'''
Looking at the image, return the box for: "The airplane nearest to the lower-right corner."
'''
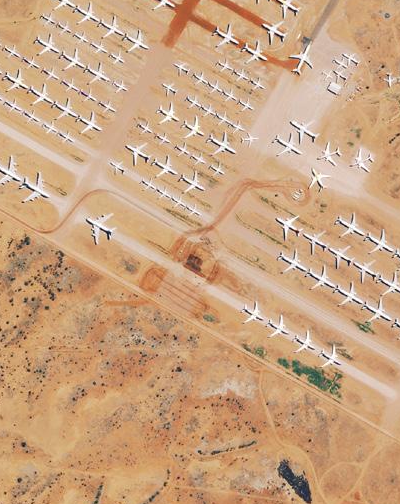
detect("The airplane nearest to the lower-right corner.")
[319,346,341,367]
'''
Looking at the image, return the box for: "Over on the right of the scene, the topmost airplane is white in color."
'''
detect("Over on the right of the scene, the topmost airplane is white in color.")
[279,0,300,16]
